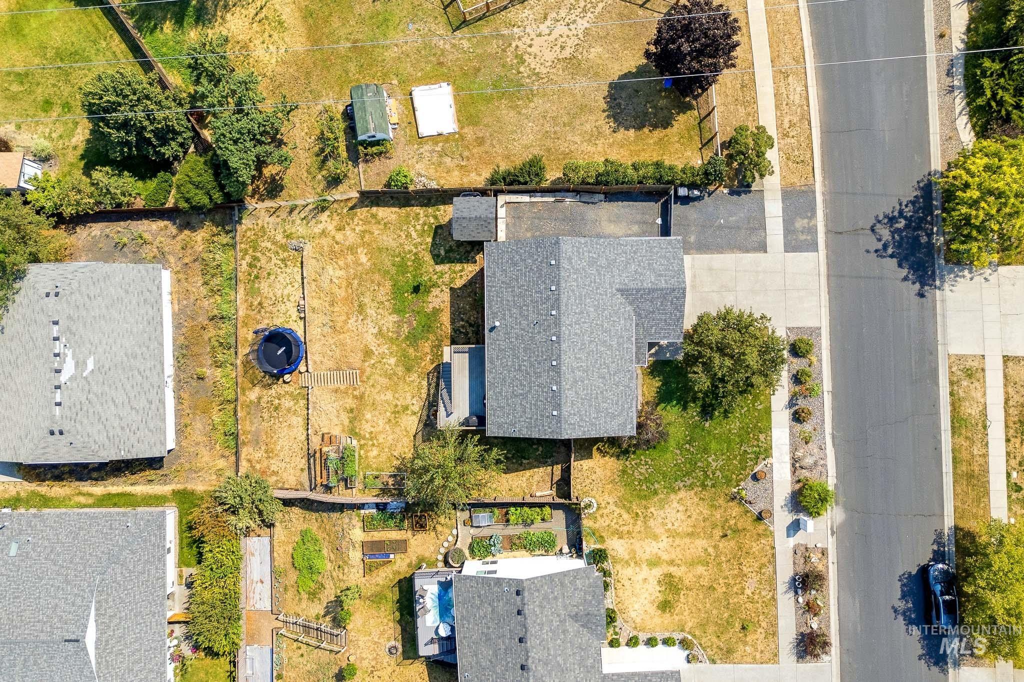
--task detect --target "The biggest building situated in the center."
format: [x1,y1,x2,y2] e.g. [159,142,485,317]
[484,236,687,439]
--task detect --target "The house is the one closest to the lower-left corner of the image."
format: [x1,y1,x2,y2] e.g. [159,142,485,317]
[0,507,176,682]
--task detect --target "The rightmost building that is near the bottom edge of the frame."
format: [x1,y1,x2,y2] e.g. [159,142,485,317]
[453,547,682,682]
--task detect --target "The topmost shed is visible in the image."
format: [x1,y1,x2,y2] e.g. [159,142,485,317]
[350,82,395,146]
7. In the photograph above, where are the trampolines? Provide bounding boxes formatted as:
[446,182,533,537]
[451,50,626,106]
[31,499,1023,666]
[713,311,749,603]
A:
[245,323,307,381]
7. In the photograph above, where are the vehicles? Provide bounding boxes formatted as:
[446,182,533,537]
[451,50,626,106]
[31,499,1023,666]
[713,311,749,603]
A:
[924,564,962,632]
